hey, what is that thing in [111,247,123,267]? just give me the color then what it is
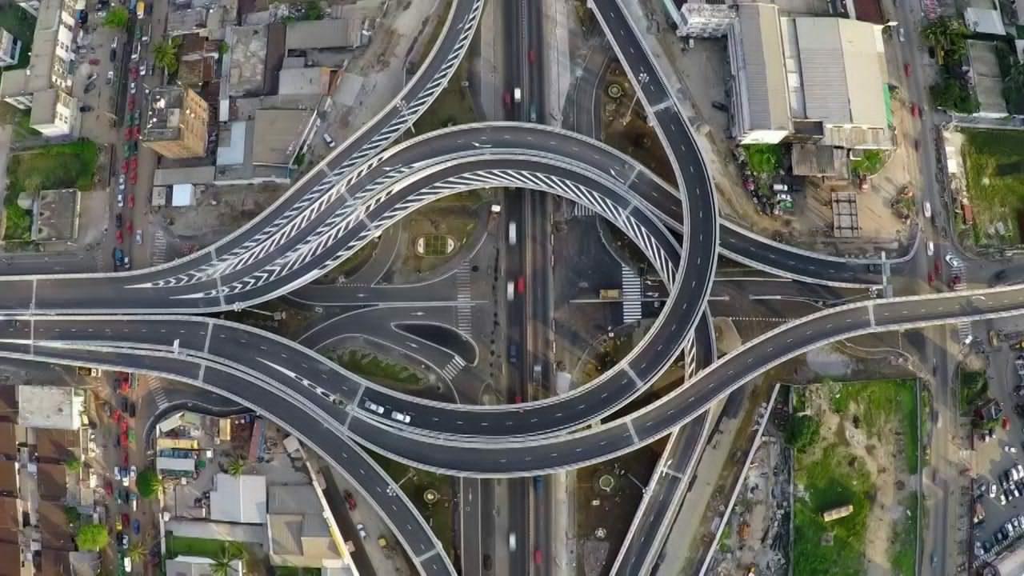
blue vehicle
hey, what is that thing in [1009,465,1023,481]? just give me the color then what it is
white vehicle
